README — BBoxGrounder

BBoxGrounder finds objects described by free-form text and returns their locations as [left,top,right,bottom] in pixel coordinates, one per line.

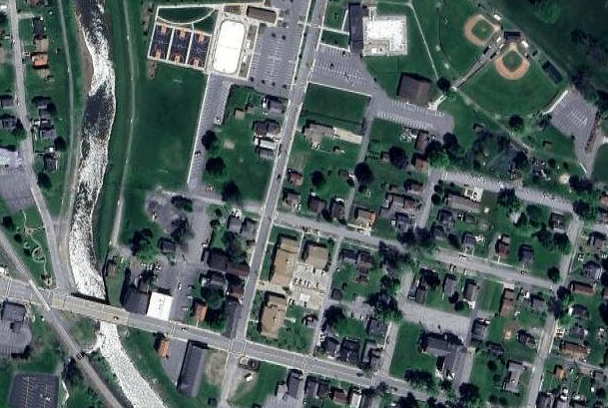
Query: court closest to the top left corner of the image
[149,24,173,59]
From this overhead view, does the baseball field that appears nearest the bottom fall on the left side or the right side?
right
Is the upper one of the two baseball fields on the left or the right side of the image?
right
